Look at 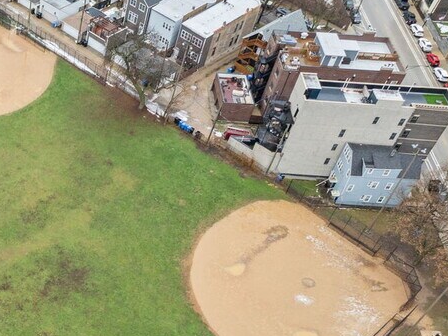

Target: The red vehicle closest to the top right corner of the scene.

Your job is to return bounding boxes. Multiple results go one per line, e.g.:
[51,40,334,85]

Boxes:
[425,53,442,68]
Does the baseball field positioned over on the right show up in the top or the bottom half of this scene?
bottom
